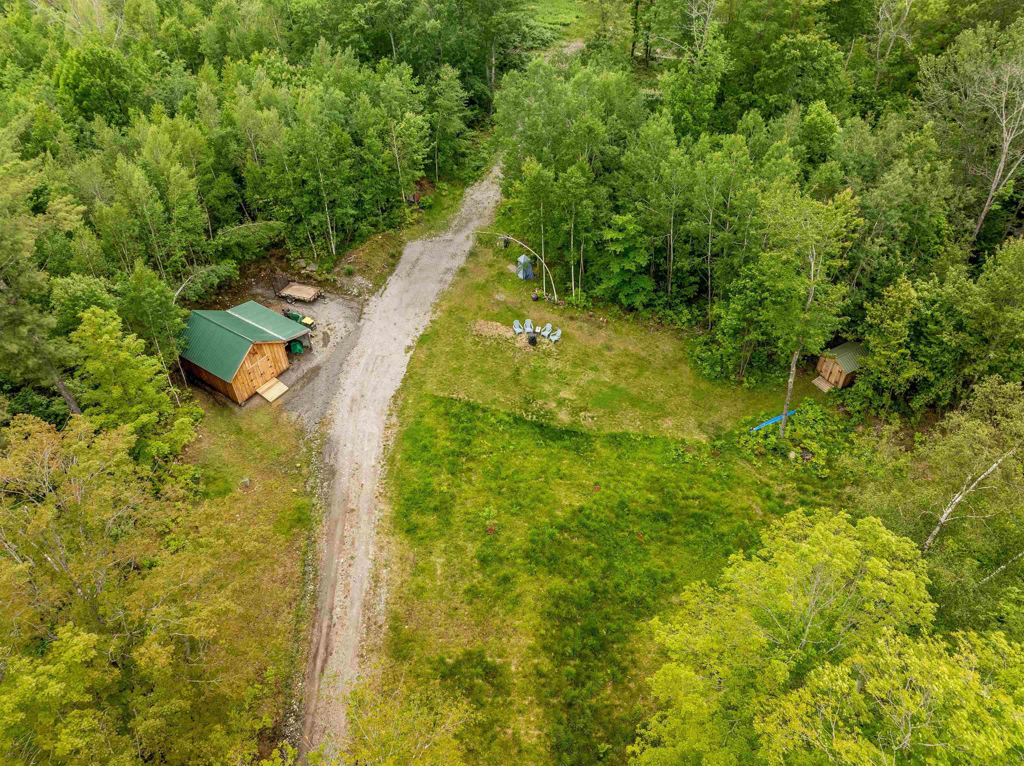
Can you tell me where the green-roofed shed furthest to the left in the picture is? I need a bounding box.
[167,301,307,404]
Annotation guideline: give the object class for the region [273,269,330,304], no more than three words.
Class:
trailer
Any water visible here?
No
